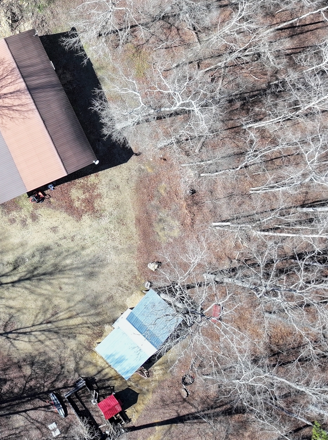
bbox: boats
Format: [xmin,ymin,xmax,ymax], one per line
[51,394,66,420]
